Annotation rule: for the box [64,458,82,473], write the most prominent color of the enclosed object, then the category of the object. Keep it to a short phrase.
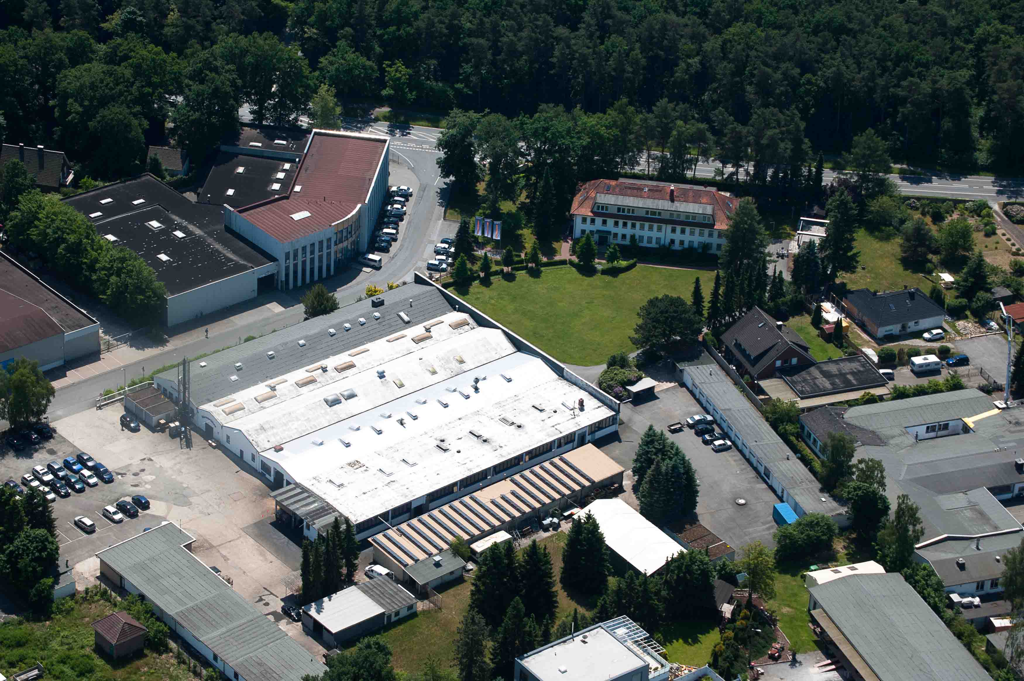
blue car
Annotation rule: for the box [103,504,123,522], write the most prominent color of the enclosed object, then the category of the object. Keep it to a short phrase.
white car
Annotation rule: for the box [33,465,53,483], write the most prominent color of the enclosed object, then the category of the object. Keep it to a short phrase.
white car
